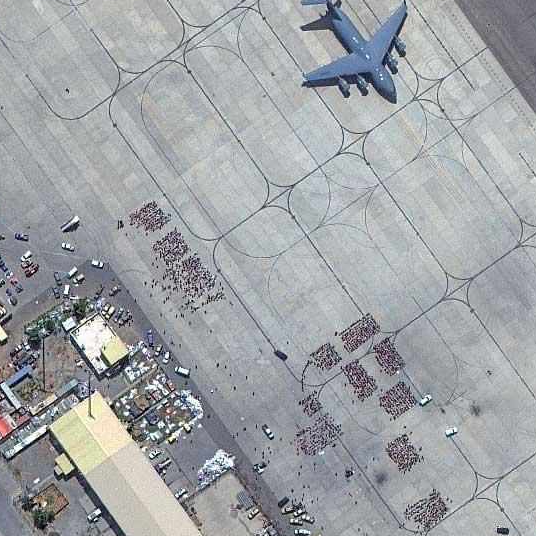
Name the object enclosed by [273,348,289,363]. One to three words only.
vehicle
